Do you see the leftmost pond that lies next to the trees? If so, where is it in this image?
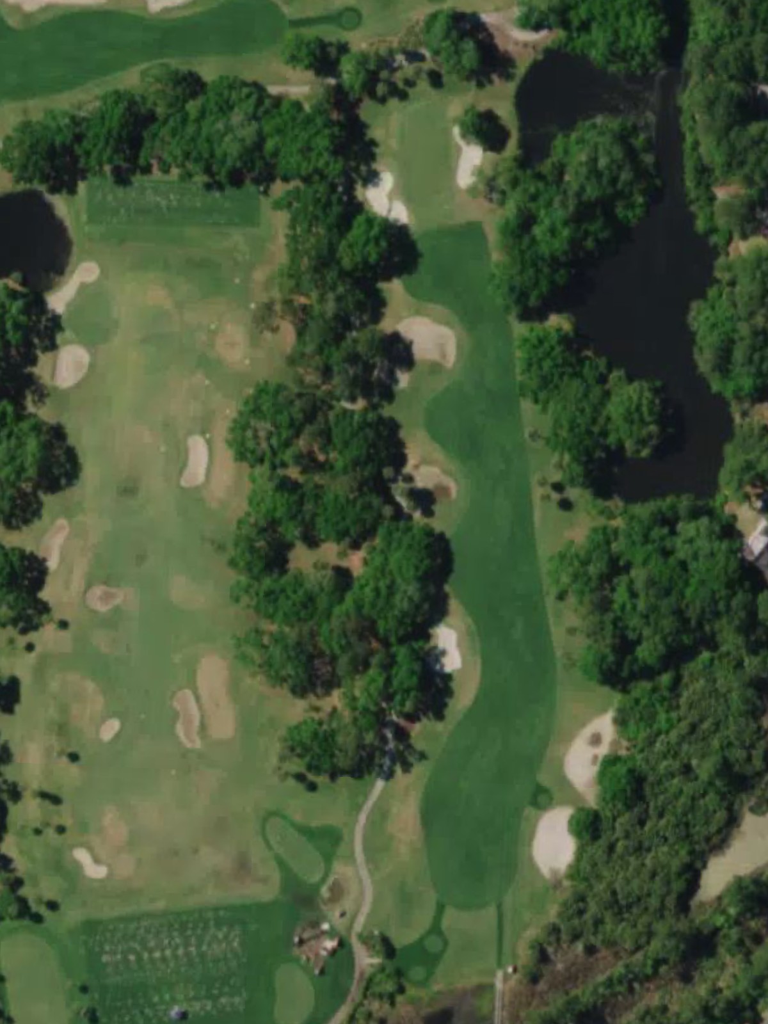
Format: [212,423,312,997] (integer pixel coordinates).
[0,189,72,298]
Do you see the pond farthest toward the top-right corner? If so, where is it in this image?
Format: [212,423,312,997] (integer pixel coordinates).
[515,0,735,505]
